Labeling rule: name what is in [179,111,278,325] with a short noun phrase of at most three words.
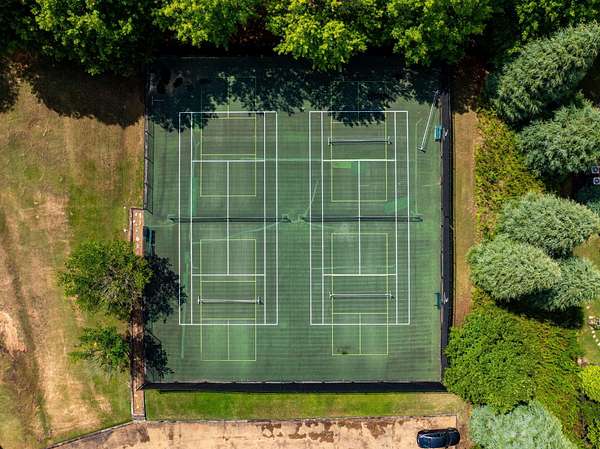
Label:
tennis court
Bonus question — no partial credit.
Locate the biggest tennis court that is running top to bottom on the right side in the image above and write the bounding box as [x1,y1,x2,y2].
[309,111,412,325]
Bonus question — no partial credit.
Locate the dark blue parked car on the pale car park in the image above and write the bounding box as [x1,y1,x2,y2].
[417,427,459,449]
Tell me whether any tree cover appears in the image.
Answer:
Yes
